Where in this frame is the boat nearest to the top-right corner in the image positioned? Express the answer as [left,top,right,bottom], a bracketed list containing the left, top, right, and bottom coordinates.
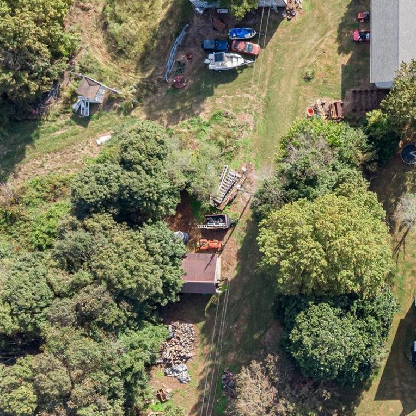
[228,26,260,40]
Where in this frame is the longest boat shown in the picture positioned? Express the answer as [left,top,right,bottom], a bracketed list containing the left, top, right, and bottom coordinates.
[205,51,262,72]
